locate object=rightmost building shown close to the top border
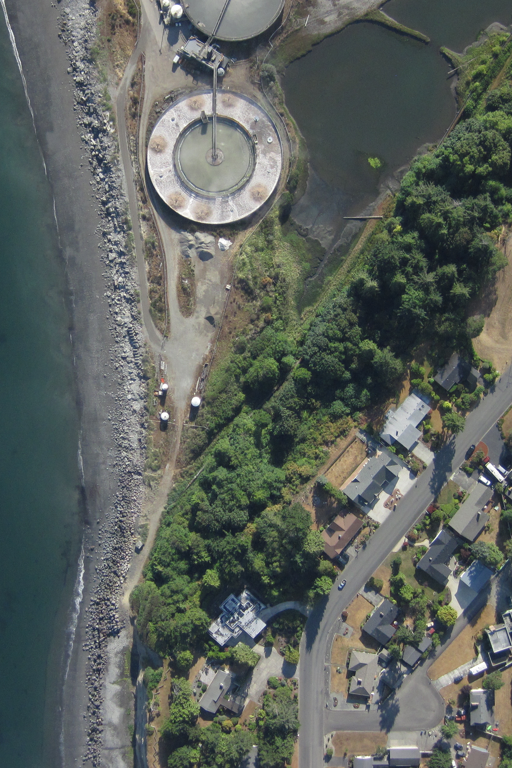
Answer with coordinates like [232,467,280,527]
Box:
[178,33,234,72]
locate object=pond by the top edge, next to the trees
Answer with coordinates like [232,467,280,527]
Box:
[281,0,512,208]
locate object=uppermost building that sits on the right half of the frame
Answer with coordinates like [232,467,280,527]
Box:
[436,353,483,390]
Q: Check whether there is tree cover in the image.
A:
Yes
